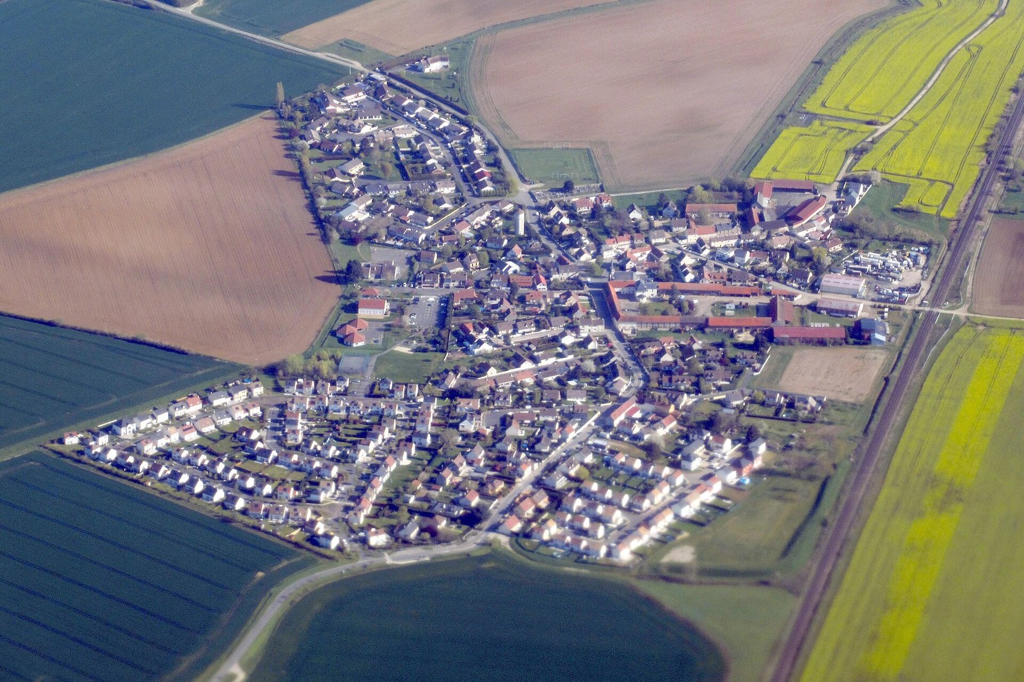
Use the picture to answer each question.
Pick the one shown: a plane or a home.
home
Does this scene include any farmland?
Yes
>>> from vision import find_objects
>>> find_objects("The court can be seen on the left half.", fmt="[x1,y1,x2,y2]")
[339,354,369,372]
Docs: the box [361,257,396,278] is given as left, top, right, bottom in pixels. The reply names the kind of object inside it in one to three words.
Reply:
building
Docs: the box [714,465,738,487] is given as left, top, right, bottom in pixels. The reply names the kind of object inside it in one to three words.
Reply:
house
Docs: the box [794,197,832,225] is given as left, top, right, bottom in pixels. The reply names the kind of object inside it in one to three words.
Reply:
barn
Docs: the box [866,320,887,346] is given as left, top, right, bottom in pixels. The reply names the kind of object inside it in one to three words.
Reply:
hangar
